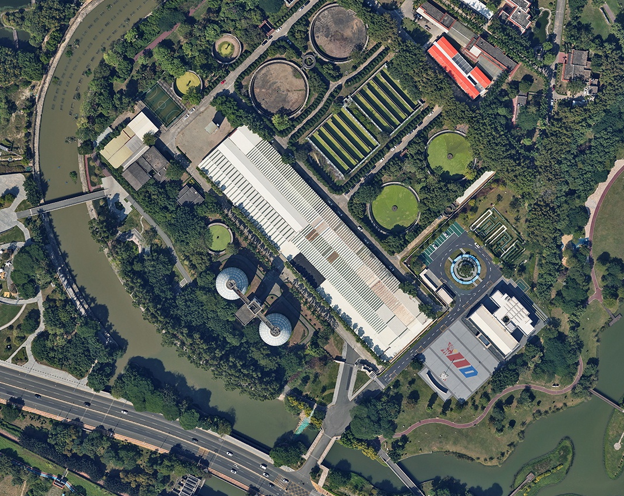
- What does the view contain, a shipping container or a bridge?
bridge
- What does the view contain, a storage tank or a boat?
storage tank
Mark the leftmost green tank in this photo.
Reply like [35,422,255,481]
[206,223,235,251]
